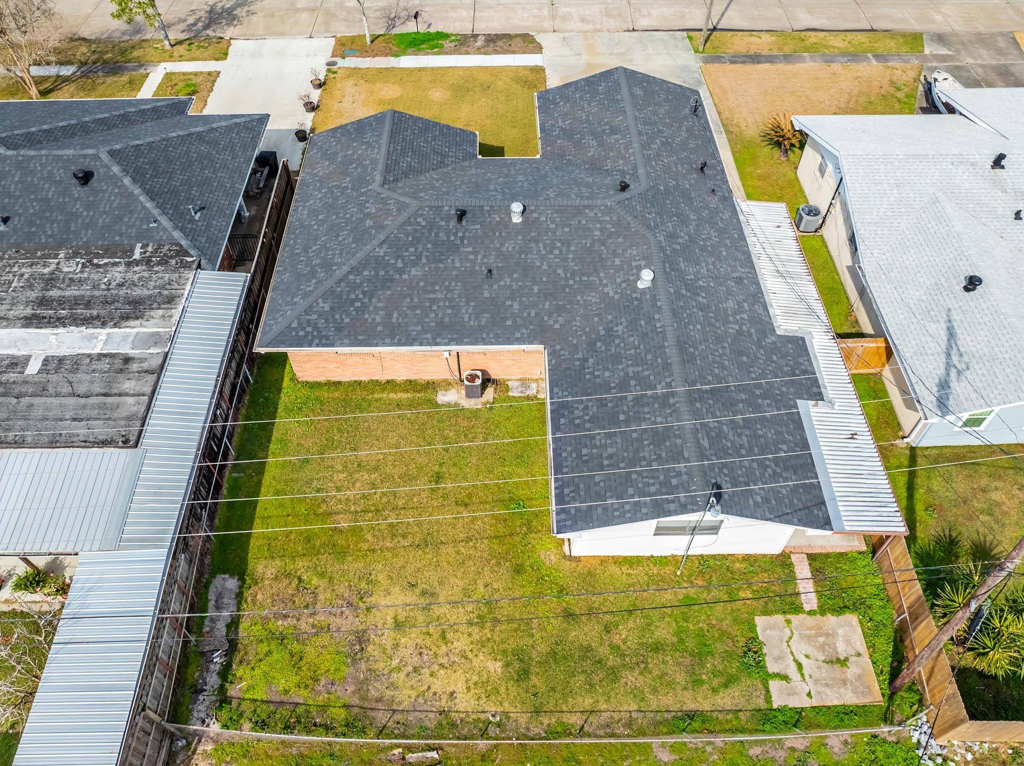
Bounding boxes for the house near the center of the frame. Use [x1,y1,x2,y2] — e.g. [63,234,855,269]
[252,63,835,557]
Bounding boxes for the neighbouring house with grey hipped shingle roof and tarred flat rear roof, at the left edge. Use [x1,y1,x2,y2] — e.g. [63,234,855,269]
[0,97,271,455]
